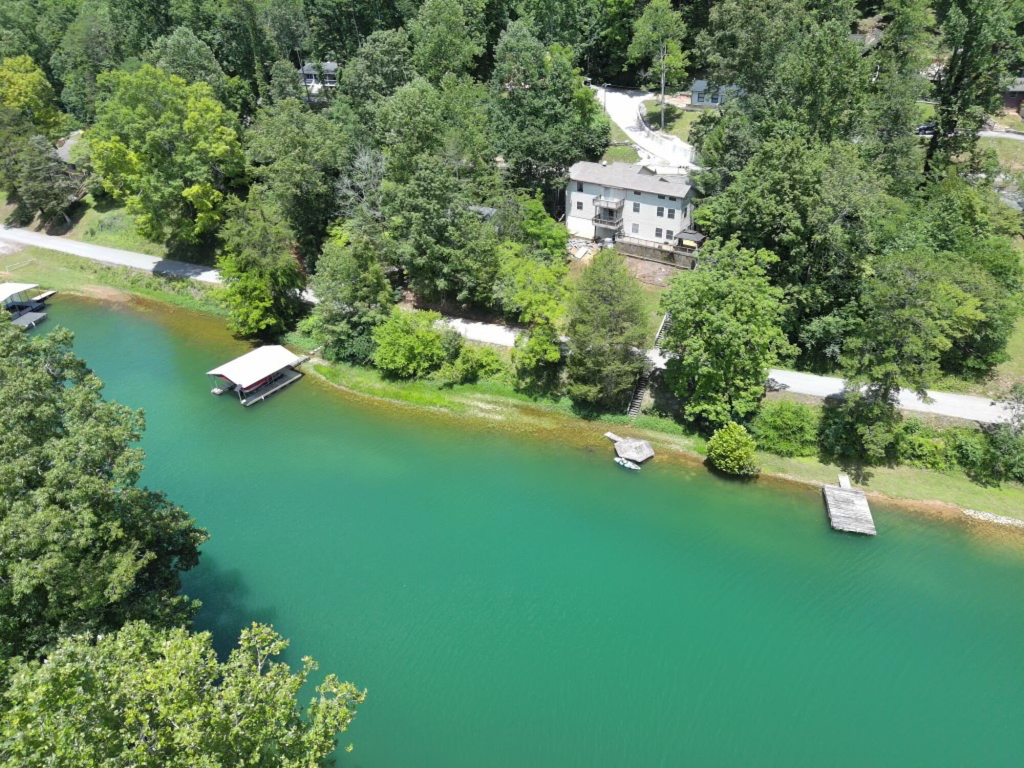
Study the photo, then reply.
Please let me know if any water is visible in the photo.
Yes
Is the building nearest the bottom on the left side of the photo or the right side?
left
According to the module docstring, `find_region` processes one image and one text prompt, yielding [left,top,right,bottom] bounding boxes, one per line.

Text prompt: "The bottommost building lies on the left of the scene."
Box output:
[206,343,306,411]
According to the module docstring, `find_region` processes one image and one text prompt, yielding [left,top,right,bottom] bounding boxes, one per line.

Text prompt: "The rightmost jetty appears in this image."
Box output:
[823,486,876,537]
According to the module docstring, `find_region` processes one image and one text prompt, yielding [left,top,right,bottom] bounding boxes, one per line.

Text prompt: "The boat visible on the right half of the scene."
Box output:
[614,458,641,470]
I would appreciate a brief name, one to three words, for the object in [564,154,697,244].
house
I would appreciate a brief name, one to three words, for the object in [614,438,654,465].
pier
